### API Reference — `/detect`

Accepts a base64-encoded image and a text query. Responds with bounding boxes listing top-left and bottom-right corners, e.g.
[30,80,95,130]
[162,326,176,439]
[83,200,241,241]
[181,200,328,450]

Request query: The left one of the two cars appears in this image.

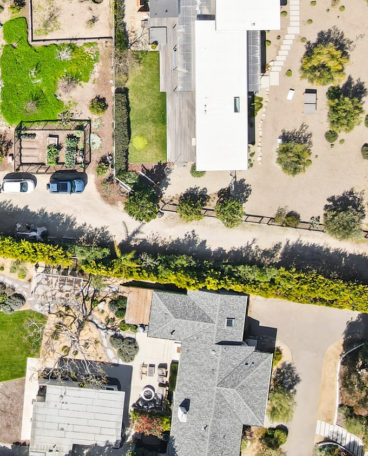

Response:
[1,177,35,195]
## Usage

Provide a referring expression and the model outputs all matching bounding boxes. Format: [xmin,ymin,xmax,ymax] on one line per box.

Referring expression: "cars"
[1,177,35,195]
[48,178,83,196]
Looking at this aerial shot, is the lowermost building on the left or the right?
left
